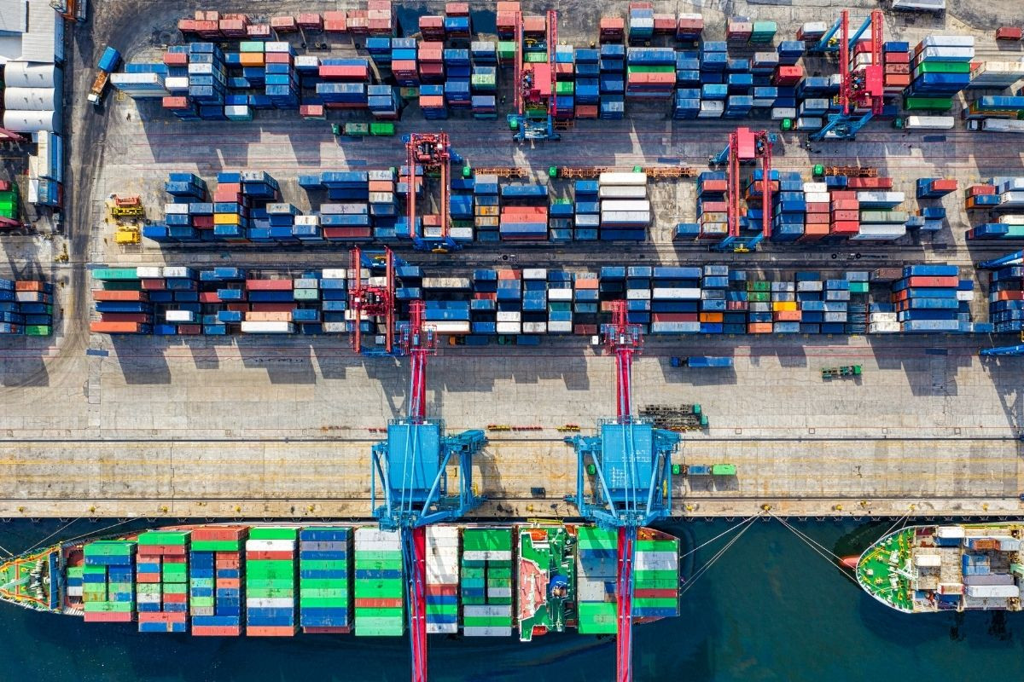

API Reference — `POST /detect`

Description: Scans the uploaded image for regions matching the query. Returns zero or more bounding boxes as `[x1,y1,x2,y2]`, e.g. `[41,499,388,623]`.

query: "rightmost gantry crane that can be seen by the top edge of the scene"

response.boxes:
[810,7,883,138]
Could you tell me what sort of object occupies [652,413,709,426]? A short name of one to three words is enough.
vehicle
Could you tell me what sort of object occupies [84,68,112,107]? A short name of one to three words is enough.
truck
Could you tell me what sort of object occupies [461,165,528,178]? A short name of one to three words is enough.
vehicle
